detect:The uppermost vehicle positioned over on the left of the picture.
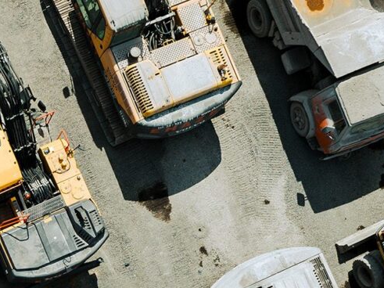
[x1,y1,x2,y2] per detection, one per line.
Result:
[44,0,242,145]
